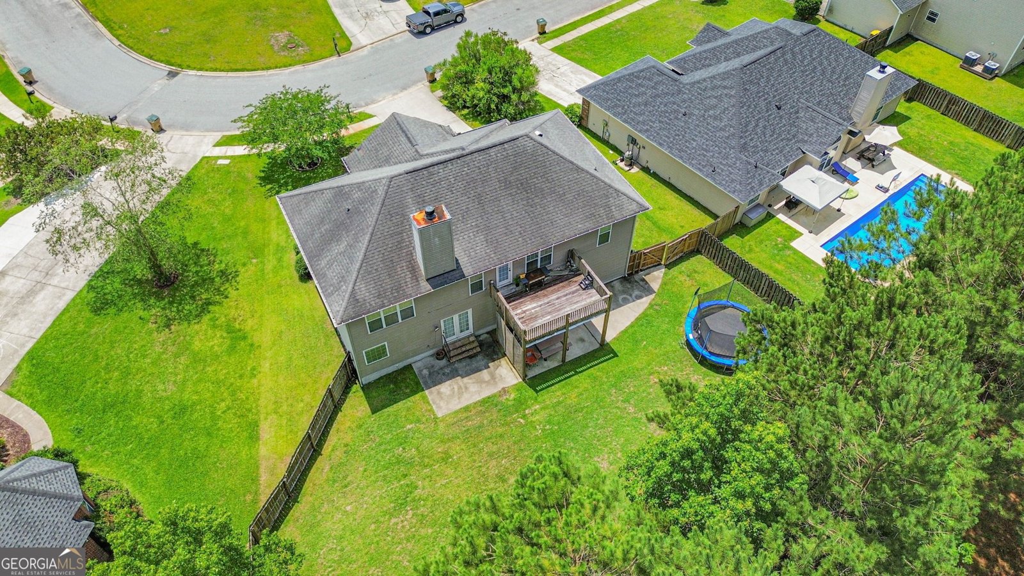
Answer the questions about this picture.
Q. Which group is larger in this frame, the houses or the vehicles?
houses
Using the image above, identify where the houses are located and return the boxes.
[274,110,652,382]
[0,456,107,576]
[821,0,1024,72]
[575,17,918,229]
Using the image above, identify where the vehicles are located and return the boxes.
[404,0,469,35]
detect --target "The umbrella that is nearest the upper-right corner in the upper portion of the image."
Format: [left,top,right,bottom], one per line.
[864,123,901,151]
